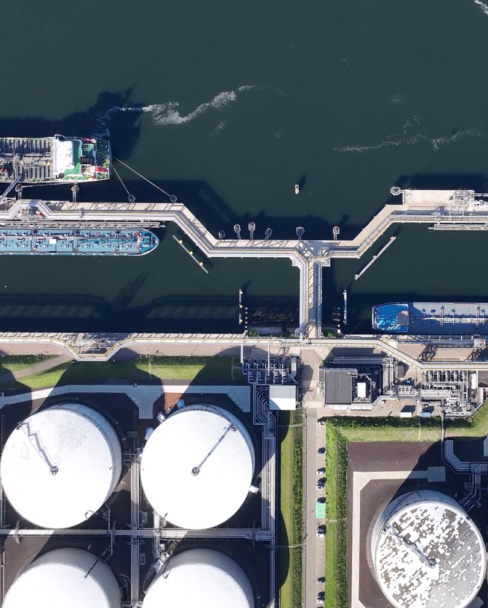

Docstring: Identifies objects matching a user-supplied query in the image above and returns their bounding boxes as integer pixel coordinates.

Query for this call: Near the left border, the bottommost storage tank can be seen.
[1,545,127,608]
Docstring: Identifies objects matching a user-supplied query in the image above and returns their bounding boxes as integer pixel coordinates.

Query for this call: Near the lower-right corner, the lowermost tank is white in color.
[369,486,487,608]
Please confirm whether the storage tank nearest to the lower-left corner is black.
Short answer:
No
